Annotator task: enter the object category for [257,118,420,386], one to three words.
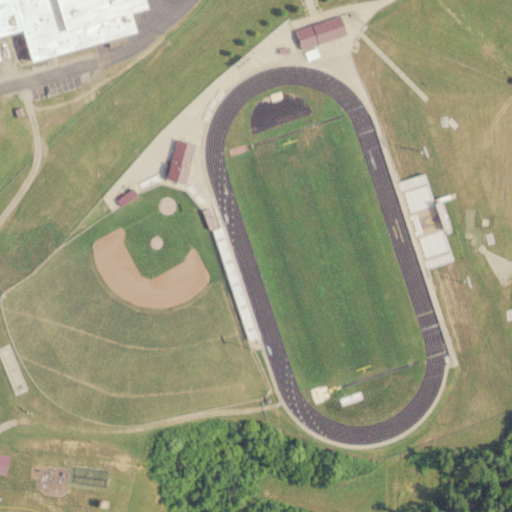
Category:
sports field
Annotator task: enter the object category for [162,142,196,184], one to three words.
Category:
building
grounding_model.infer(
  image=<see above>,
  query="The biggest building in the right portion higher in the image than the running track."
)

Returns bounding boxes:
[296,16,346,52]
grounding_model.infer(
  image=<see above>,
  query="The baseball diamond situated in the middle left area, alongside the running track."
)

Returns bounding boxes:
[2,187,268,424]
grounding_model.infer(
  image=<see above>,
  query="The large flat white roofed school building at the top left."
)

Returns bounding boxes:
[0,0,150,64]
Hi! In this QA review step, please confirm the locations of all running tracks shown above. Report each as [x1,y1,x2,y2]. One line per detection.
[208,66,446,444]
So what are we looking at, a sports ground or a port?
sports ground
